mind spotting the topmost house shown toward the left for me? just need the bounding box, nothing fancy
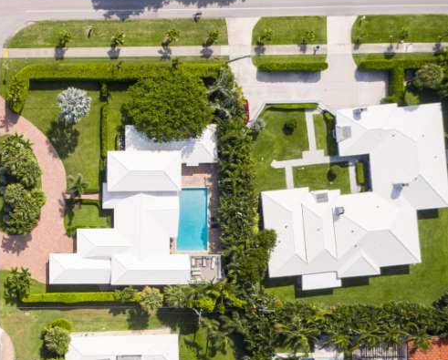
[49,126,217,284]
